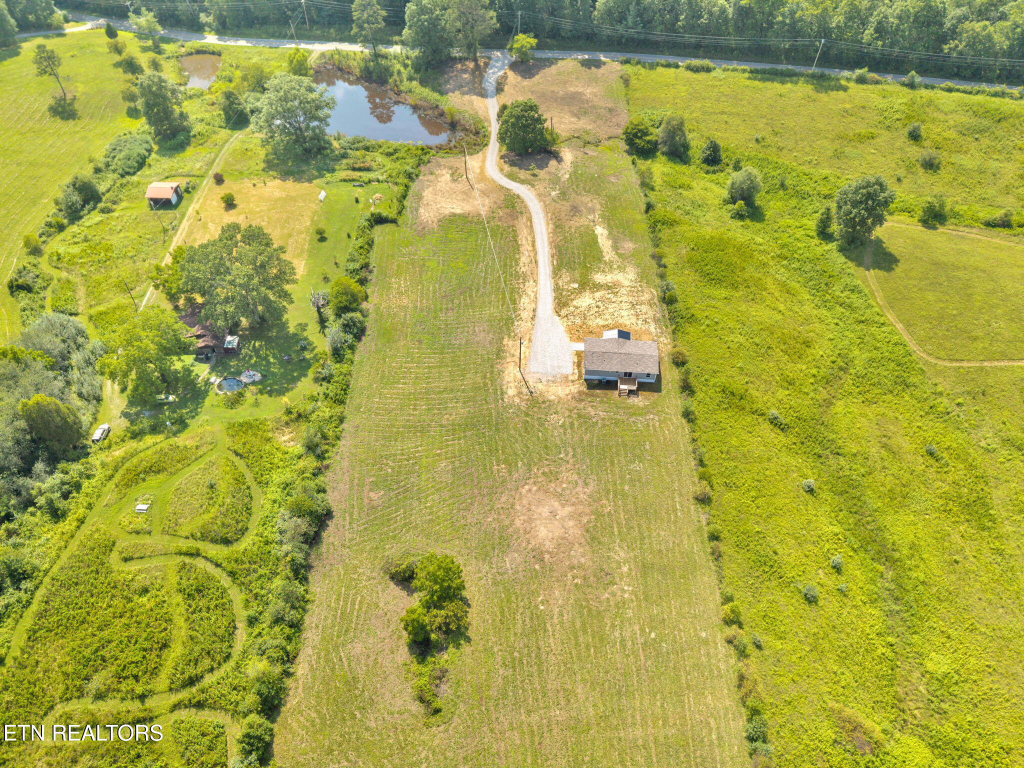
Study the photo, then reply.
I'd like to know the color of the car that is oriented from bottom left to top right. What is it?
white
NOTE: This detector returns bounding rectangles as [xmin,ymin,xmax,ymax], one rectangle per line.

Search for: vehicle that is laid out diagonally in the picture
[89,423,114,444]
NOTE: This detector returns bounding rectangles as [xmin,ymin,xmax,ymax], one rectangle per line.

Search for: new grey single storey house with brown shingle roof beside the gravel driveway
[584,328,659,382]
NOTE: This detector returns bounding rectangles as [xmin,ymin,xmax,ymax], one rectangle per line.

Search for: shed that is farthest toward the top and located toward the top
[146,186,178,204]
